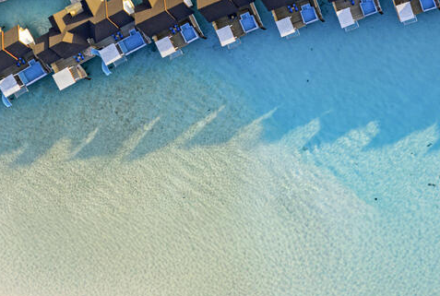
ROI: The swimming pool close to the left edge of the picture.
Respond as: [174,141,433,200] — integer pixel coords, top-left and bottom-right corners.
[18,65,48,92]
